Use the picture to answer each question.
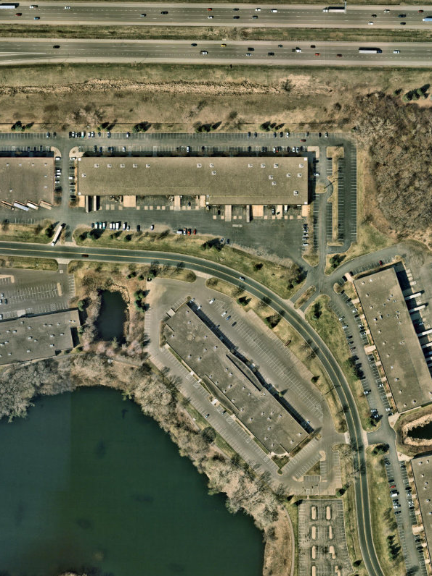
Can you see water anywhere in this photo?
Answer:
Yes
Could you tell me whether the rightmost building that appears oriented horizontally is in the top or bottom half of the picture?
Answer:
top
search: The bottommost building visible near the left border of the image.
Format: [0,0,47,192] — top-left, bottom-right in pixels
[0,310,81,364]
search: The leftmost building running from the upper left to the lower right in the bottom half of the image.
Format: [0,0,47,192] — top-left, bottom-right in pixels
[166,304,308,453]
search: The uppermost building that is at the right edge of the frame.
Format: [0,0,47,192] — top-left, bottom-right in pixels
[354,268,432,413]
